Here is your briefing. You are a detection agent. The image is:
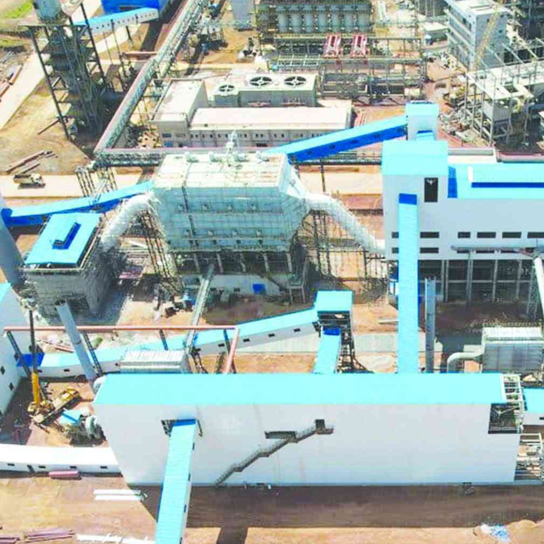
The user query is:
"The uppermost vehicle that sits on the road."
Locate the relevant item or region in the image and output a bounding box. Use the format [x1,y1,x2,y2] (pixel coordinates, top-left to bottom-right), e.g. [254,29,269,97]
[12,177,42,190]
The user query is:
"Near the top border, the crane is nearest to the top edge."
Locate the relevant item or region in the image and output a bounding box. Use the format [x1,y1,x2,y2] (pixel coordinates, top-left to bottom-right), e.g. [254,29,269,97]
[464,0,503,77]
